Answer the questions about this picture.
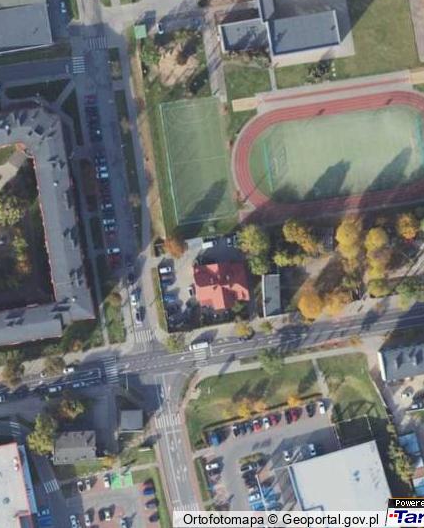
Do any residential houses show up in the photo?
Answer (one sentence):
Yes, a residential house appears in the view.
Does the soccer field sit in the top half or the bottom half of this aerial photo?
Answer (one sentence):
The soccer field sits in the top half of the picture.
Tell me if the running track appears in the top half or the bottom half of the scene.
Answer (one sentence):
The top half of the photo is where the running track is.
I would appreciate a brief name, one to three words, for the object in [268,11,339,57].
building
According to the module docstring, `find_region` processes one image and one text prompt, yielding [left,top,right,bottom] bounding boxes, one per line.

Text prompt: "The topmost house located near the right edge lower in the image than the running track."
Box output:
[378,345,424,381]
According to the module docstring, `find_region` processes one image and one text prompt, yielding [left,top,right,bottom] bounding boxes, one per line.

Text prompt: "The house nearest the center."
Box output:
[193,262,251,309]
